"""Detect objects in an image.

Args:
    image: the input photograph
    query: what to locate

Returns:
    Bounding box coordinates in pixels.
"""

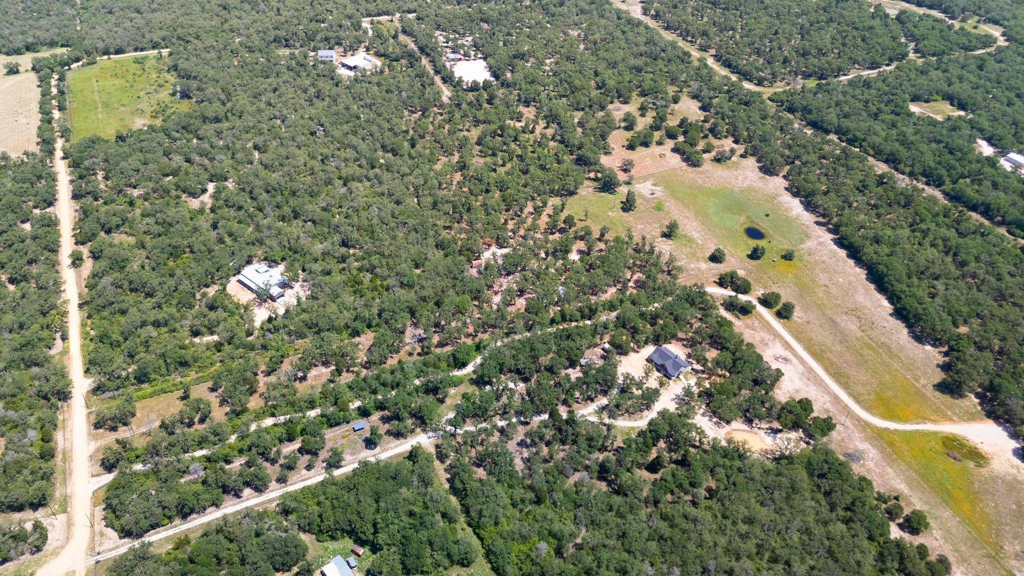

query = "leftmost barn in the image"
[237,263,293,298]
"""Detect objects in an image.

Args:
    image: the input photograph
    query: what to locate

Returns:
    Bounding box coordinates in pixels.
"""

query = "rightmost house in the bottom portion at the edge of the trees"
[647,345,693,381]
